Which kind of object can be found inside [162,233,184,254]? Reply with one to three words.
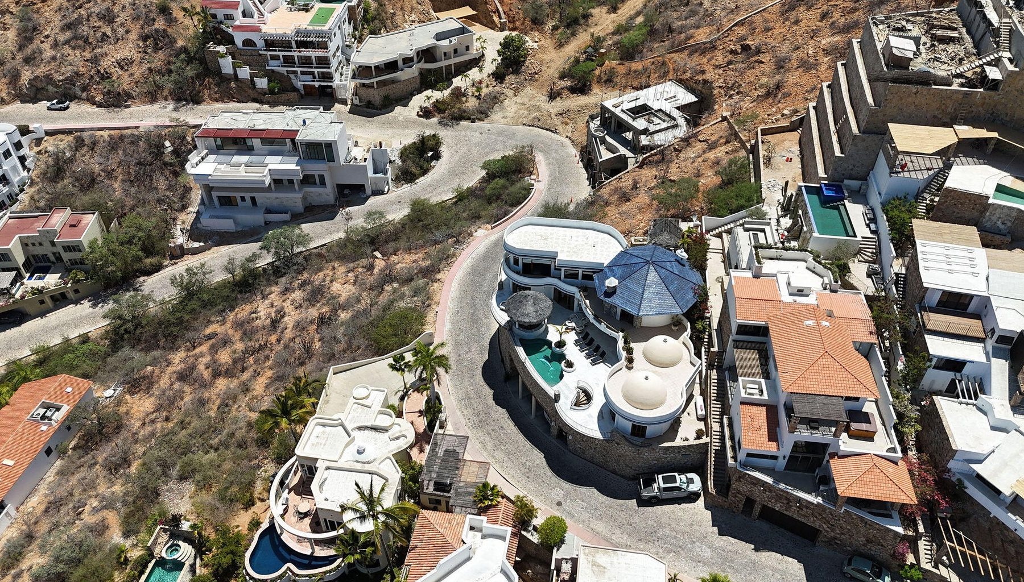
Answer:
building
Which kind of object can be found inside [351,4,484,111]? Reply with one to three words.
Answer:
house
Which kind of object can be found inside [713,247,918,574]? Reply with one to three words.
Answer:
house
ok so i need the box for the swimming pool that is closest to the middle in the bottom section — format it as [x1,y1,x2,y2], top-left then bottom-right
[520,340,565,385]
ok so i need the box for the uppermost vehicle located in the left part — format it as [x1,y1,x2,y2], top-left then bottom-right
[42,98,71,111]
